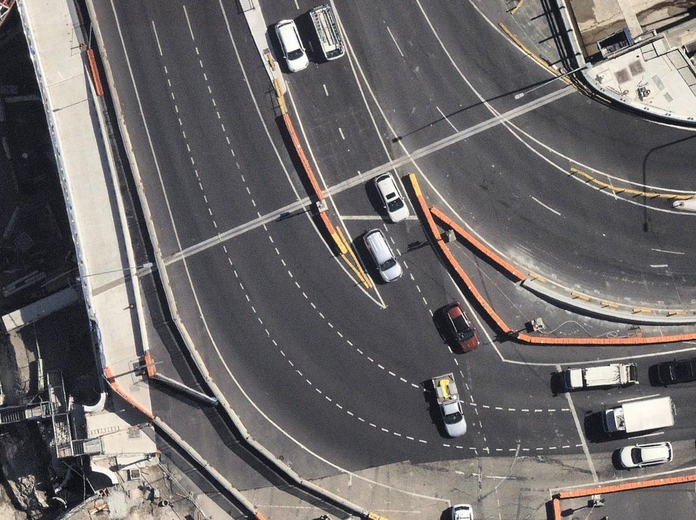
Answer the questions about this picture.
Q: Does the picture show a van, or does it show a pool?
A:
van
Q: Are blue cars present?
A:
No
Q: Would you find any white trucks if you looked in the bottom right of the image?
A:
Yes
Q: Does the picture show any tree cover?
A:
No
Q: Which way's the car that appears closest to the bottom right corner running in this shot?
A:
from side to side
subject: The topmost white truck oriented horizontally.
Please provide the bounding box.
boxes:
[562,362,640,394]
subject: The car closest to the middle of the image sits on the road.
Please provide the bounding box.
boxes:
[366,226,402,285]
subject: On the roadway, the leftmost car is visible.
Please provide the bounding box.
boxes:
[275,17,309,74]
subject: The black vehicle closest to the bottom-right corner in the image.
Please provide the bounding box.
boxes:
[656,362,696,387]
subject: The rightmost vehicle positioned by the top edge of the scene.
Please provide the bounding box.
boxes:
[309,2,349,63]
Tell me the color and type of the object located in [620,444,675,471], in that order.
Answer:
white car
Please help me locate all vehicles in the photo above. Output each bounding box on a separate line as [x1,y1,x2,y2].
[309,2,349,63]
[445,300,482,355]
[375,171,409,225]
[620,444,675,471]
[366,226,402,285]
[602,399,679,436]
[436,372,468,439]
[452,504,475,520]
[562,362,640,394]
[275,17,309,74]
[656,362,696,387]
